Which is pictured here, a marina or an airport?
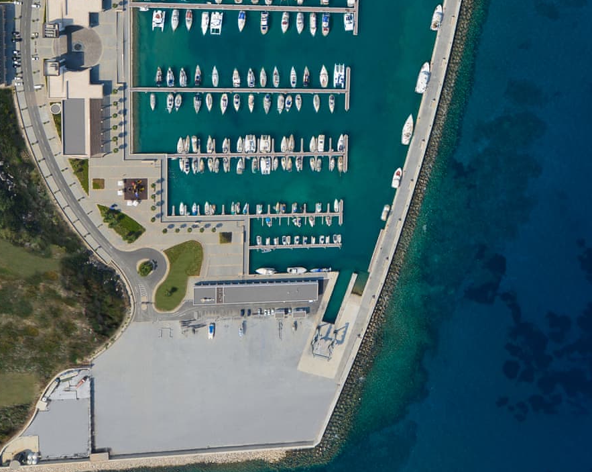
marina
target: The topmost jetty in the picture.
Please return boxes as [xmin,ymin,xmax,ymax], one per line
[132,0,358,35]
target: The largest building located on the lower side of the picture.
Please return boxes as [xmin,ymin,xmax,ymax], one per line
[193,279,319,305]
